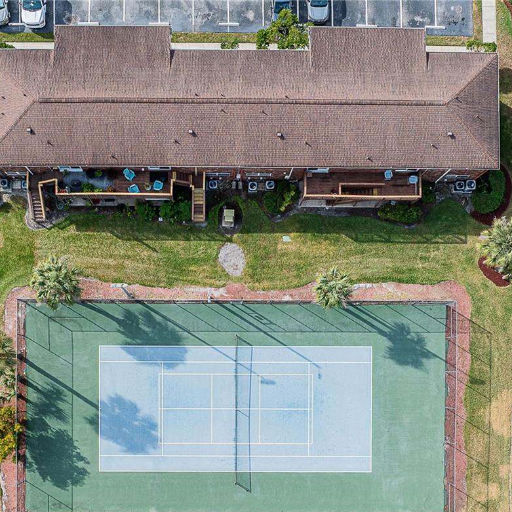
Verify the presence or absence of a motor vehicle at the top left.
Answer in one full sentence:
Yes, a motor vehicle appears at the top left.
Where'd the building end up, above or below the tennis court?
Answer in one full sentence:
The building appears above the tennis court in the picture.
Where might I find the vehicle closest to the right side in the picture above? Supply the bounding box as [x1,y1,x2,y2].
[305,0,333,26]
